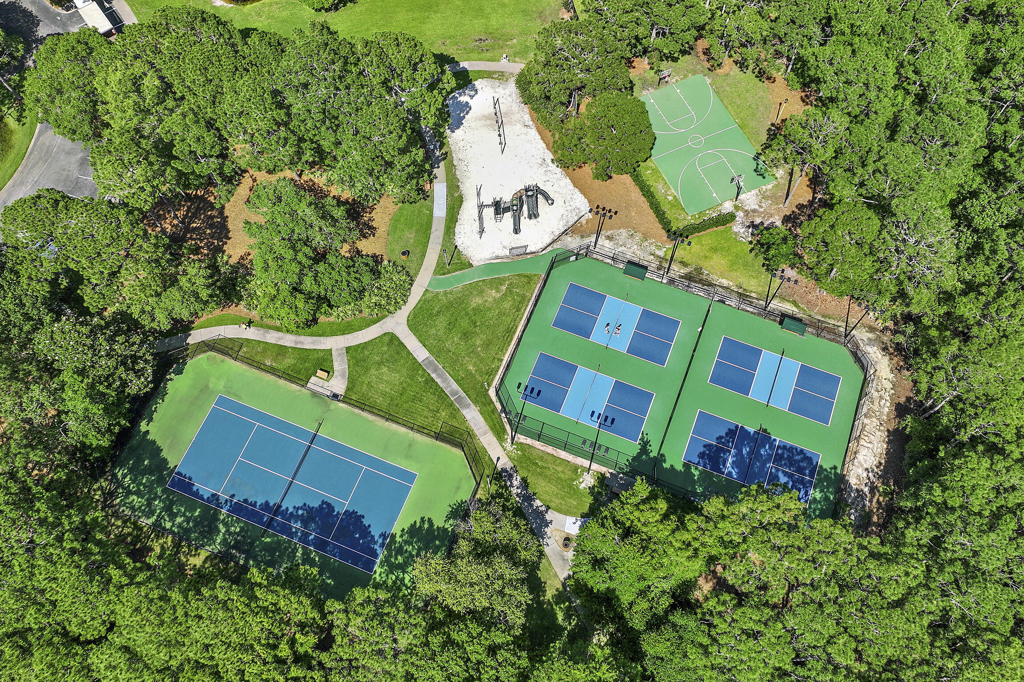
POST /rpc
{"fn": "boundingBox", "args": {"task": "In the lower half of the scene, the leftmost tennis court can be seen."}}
[103,352,477,624]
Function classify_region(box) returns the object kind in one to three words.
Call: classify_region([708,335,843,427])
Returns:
sports court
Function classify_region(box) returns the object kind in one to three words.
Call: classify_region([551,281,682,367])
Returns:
sports court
